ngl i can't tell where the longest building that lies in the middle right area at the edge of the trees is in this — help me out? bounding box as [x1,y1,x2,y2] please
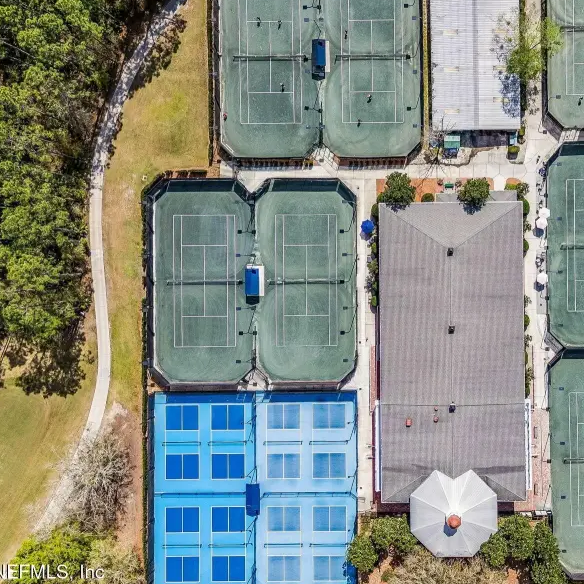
[378,191,527,503]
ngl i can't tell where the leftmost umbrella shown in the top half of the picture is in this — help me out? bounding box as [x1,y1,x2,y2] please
[361,220,375,234]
